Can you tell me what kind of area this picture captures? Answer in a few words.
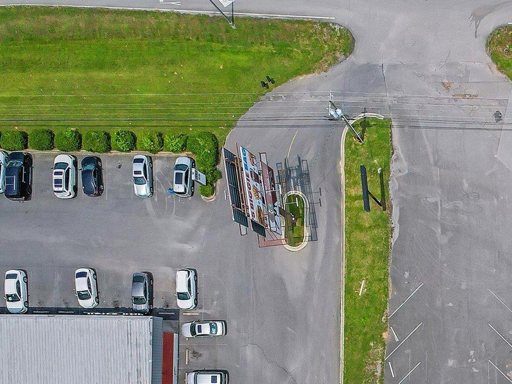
parking lot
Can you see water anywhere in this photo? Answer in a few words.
No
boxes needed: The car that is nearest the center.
[171,156,195,197]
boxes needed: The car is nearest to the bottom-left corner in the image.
[4,269,29,313]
